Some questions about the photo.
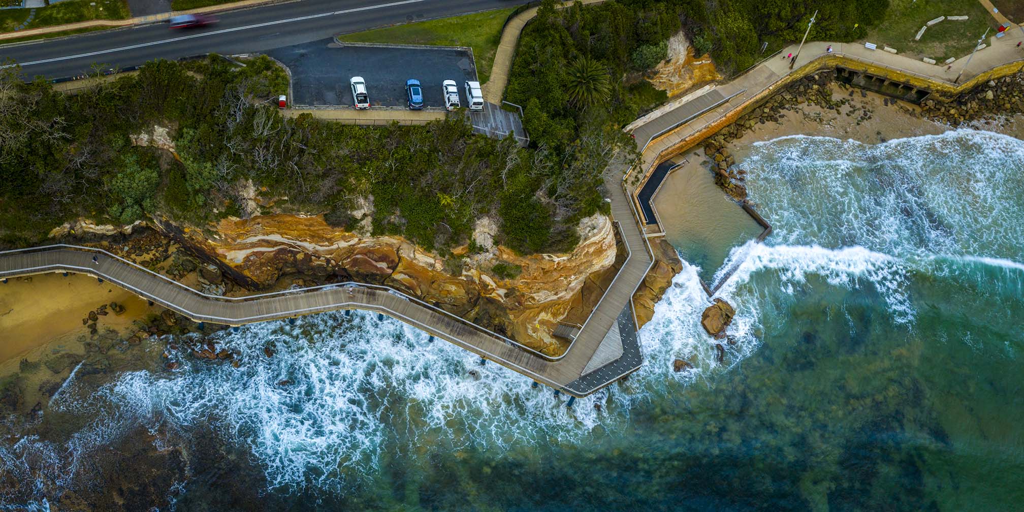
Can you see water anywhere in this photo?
Yes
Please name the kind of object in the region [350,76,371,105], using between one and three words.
vehicle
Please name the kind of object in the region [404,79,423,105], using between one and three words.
car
